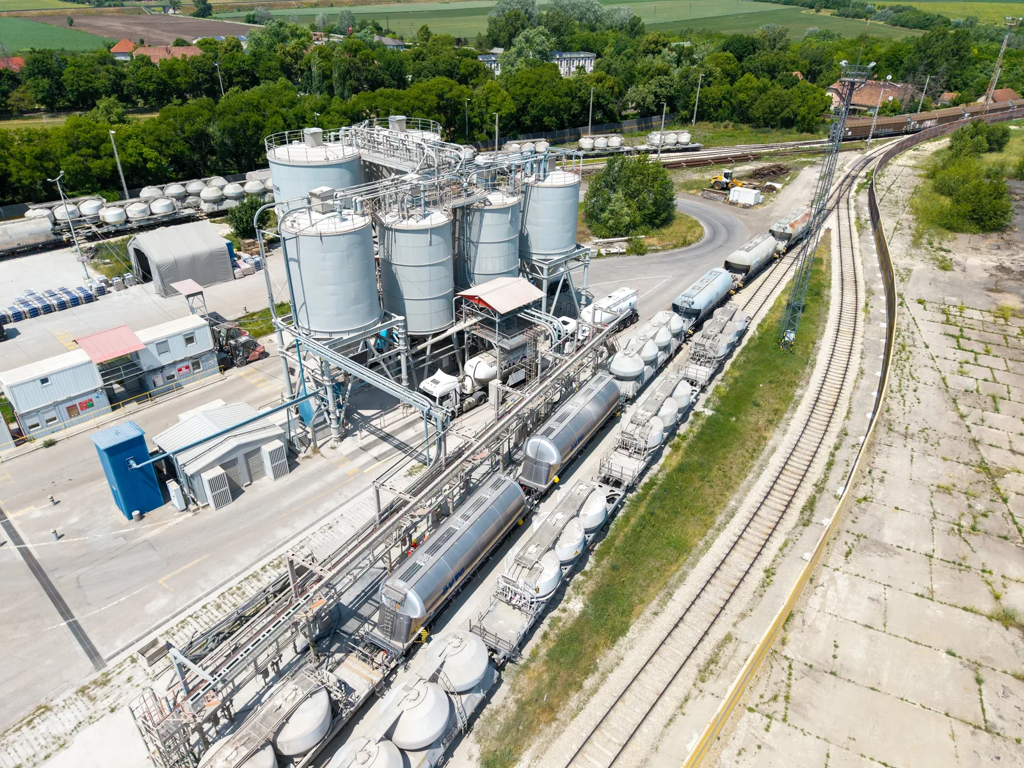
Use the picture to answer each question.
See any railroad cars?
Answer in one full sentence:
Yes, I can see a railroad car in this picture.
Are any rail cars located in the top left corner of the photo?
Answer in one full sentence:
Yes, a rail car appears in the top left corner of the photo.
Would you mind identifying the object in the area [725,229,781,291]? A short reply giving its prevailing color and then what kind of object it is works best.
white rail car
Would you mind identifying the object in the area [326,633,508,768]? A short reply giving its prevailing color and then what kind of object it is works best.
white rail car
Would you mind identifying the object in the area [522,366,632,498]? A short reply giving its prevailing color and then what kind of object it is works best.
gray rail car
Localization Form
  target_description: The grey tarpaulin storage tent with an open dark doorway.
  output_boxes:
[138,226,235,297]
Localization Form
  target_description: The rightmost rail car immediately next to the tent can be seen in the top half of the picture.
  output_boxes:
[187,171,274,209]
